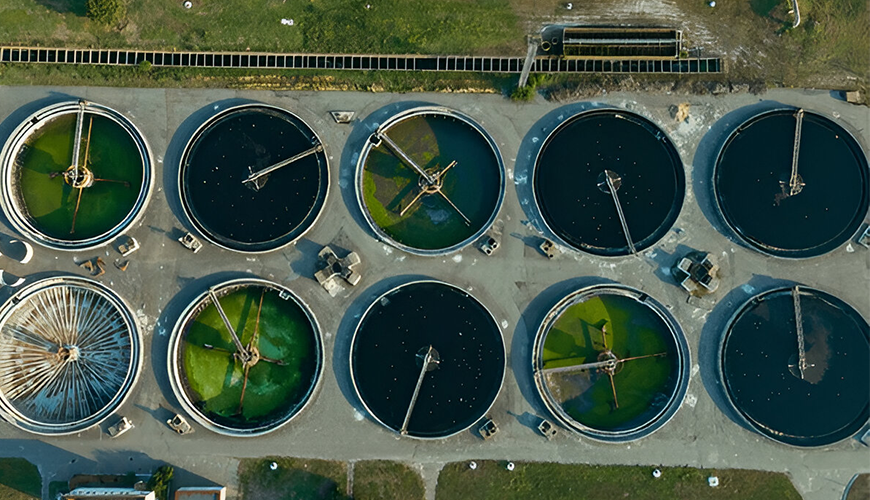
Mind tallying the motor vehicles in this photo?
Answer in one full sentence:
I count no motor vehicles.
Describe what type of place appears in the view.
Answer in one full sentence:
This looks like an industrial area.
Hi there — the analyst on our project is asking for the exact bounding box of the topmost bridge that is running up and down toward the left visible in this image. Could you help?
[73,99,87,178]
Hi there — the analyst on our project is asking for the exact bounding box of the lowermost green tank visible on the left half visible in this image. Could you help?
[167,278,326,436]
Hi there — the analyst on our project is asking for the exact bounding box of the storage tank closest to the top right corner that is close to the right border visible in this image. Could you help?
[714,107,868,260]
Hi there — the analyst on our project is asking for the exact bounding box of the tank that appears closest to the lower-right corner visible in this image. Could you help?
[716,287,870,445]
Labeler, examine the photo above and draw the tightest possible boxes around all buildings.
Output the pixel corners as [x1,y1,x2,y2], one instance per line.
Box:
[175,486,227,500]
[51,485,163,500]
